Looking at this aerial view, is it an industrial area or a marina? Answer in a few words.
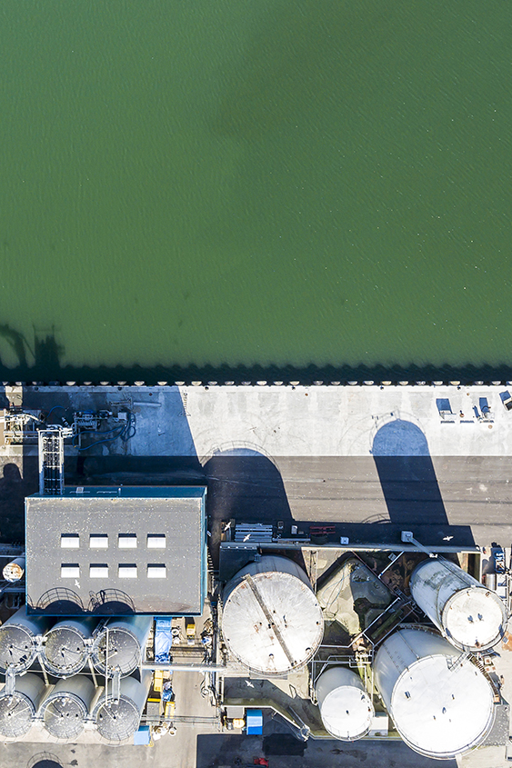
industrial area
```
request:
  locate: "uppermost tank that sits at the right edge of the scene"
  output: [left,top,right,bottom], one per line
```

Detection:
[413,559,511,654]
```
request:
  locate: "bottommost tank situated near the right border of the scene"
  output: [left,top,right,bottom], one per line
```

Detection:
[371,623,498,760]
